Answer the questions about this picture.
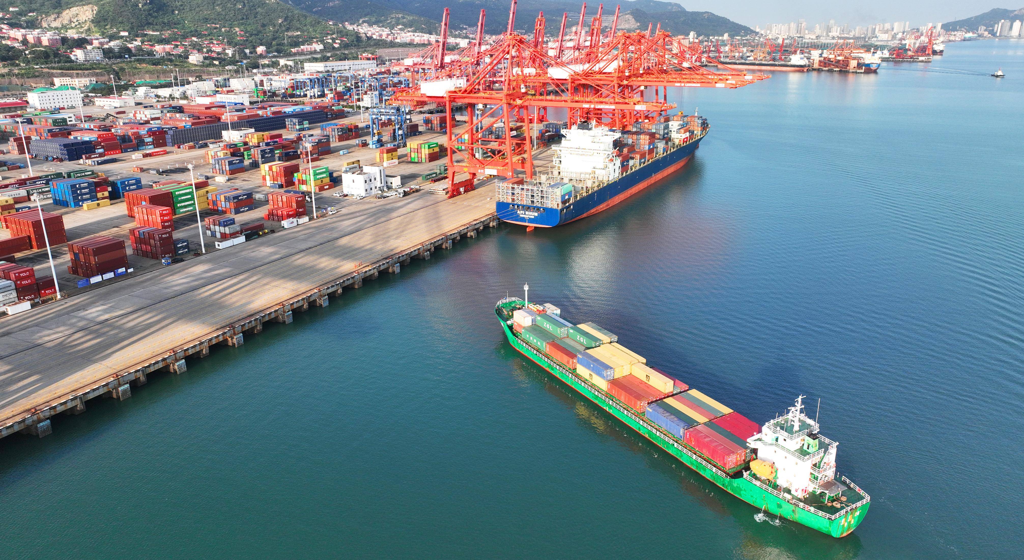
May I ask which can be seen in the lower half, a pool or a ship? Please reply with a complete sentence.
You can see a ship in the lower half.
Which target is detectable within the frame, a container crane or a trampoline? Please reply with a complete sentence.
Visible in the photo is a container crane.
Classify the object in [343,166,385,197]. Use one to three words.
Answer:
building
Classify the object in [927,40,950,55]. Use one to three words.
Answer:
ship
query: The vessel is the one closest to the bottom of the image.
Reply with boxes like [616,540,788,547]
[495,282,874,540]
